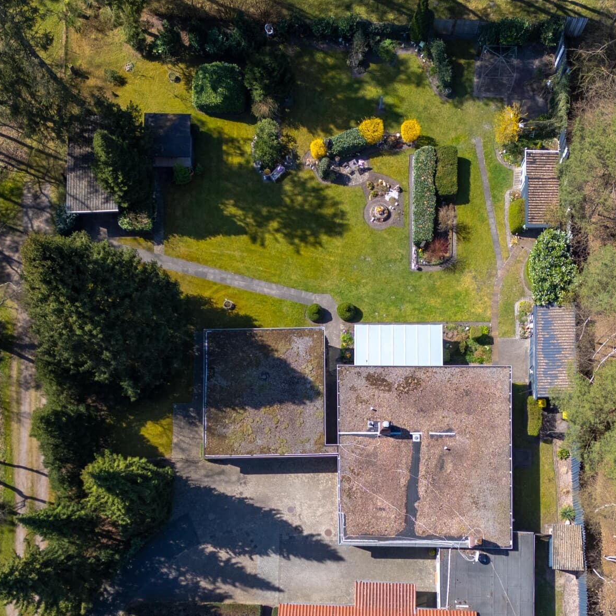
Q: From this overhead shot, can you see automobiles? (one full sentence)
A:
No, there's no automobile here.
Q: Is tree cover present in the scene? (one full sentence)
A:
Yes, there is tree cover in the image.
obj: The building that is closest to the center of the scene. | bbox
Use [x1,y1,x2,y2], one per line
[203,326,338,460]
